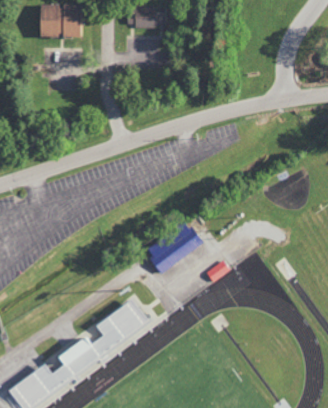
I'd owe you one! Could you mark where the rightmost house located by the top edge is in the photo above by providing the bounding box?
[128,4,157,30]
